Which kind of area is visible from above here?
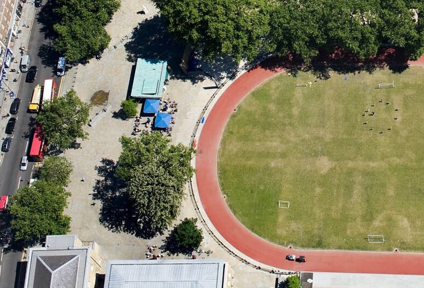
sports ground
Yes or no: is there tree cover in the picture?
Yes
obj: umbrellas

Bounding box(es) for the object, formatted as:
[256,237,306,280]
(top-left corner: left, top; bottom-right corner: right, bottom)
[143,98,160,113]
[155,111,173,128]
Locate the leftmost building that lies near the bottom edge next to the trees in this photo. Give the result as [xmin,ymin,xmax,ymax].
[24,235,100,288]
